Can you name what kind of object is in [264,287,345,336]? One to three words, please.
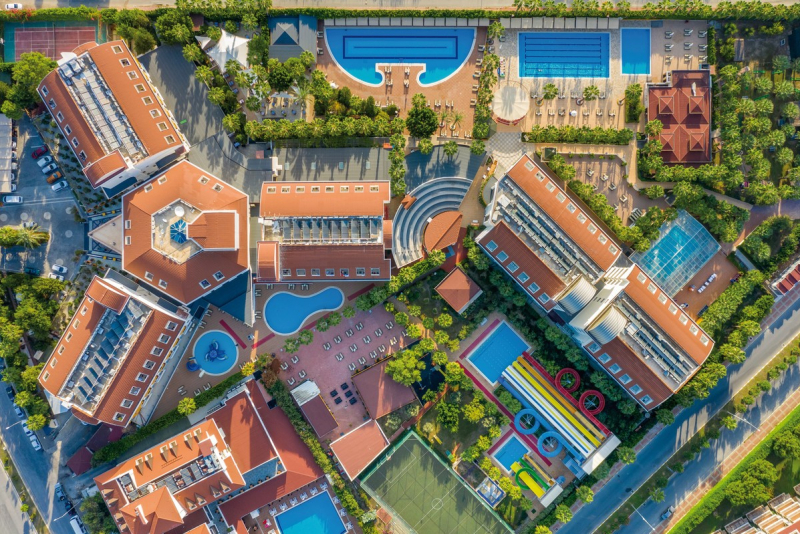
swimming pool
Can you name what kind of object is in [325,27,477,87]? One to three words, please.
swimming pool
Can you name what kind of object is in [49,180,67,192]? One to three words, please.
vehicle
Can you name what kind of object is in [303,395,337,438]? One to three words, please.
building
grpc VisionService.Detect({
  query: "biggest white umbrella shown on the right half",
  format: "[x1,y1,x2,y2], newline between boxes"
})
[492,86,529,122]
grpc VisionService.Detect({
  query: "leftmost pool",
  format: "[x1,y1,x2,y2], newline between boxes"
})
[190,328,239,378]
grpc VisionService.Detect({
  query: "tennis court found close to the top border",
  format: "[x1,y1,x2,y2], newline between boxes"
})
[5,16,107,63]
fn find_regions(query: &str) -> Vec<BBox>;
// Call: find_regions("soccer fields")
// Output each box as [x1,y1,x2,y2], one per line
[361,429,513,534]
